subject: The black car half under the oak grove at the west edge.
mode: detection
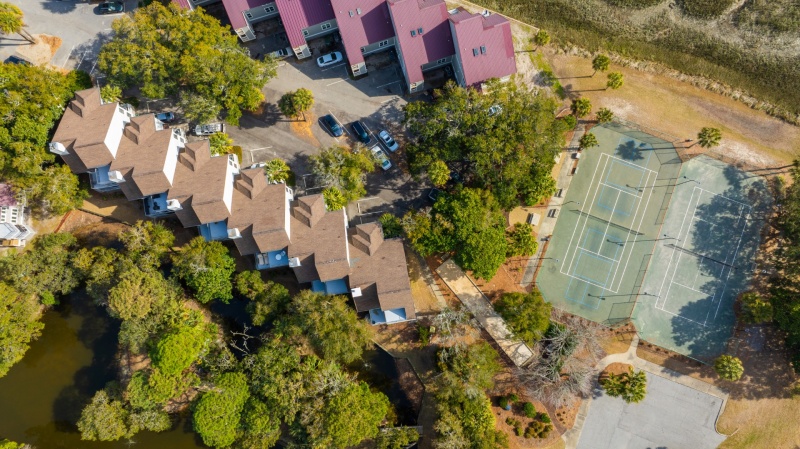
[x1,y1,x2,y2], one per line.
[5,53,34,69]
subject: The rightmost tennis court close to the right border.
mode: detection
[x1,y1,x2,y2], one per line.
[630,154,774,364]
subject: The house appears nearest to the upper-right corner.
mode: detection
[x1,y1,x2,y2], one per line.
[446,0,517,99]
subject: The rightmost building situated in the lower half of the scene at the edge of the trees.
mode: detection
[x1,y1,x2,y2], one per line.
[351,222,414,326]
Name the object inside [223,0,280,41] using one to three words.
house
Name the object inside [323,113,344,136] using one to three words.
car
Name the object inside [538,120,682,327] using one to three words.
tennis court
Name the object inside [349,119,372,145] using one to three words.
car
